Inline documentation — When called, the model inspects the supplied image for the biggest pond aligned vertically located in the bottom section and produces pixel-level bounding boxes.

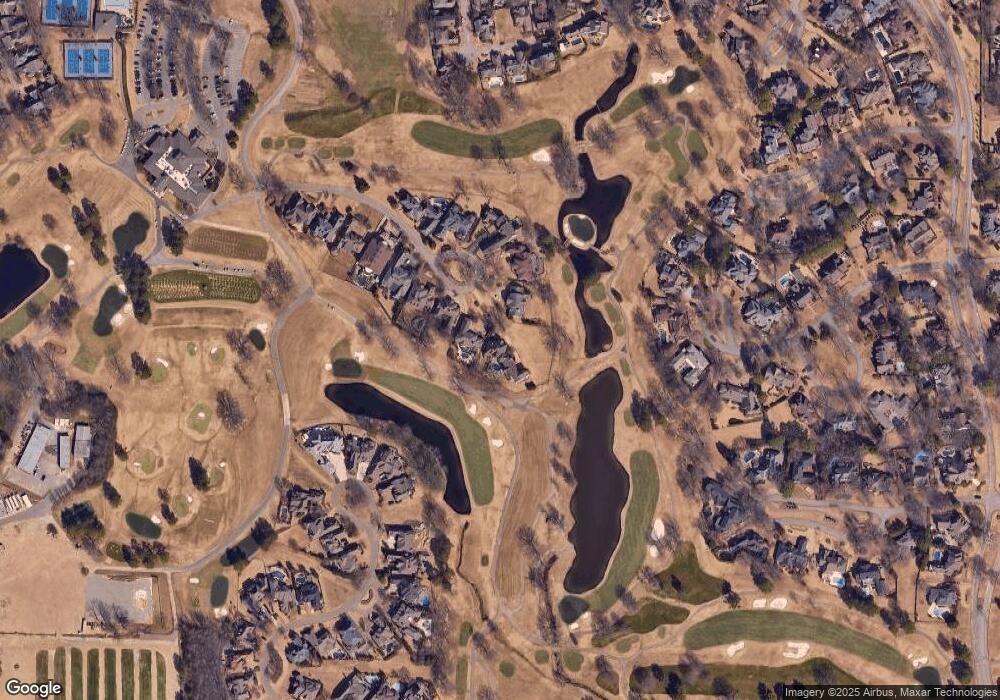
[564,367,630,594]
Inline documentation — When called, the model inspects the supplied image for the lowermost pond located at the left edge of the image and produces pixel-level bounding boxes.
[0,244,50,319]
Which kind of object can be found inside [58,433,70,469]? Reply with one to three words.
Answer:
shed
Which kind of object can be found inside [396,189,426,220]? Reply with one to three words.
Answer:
house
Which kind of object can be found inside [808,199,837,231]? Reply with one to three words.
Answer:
house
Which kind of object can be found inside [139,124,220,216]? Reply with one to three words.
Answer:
building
